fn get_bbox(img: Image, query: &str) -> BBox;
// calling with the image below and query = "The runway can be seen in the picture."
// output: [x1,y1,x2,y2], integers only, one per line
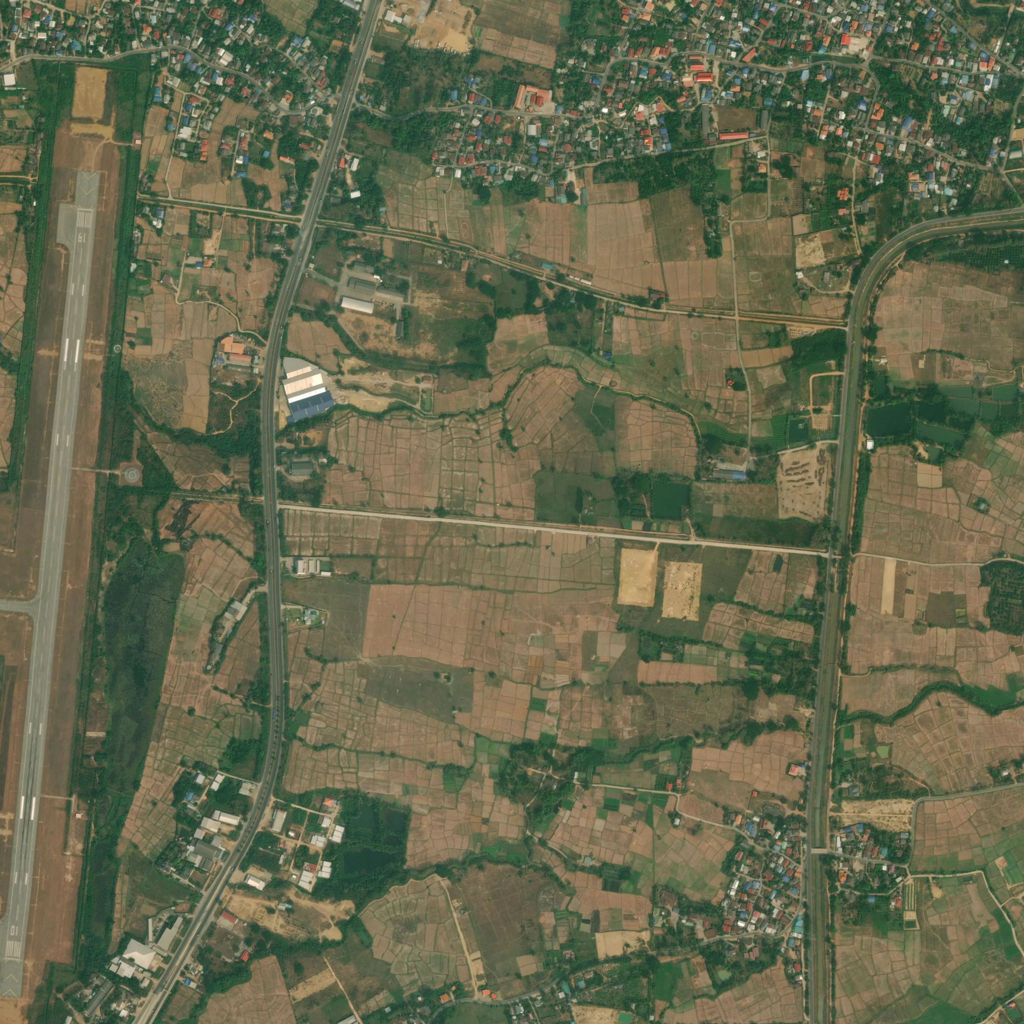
[0,171,100,997]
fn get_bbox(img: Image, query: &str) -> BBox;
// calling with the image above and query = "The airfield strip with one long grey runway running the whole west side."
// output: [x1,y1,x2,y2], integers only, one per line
[0,171,100,997]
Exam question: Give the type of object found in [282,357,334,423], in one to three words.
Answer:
building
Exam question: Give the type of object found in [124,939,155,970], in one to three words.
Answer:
building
